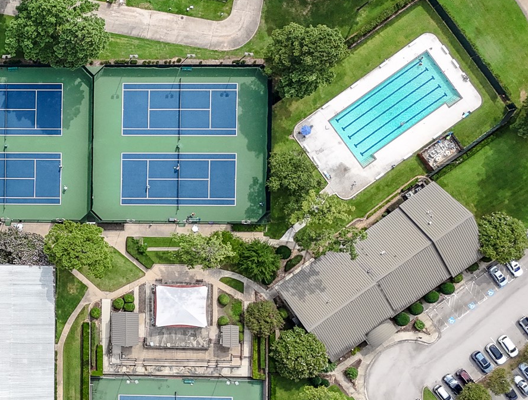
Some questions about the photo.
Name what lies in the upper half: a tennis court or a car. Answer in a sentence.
Visible in the upper half is a tennis court.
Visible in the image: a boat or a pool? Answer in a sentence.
Of the two, only a pool appears.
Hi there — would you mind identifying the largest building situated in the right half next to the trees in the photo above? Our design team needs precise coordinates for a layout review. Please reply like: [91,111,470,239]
[275,182,482,360]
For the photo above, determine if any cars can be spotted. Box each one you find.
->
[485,343,504,364]
[488,265,507,287]
[517,362,528,382]
[471,350,490,373]
[433,383,451,400]
[513,374,528,396]
[504,258,523,280]
[442,373,463,395]
[497,335,517,357]
[504,386,518,400]
[454,365,473,387]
